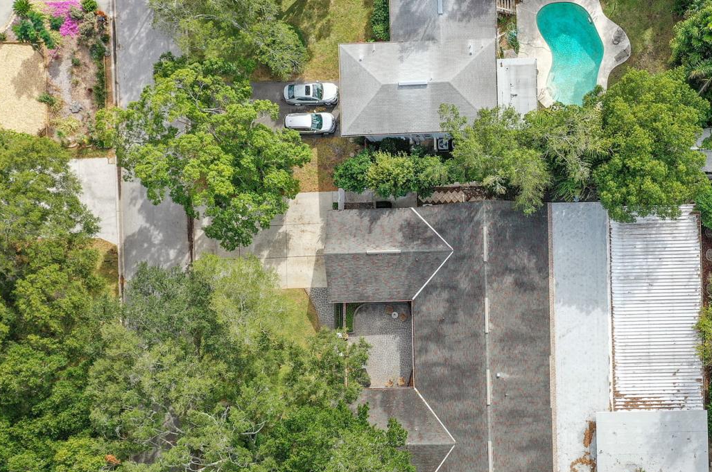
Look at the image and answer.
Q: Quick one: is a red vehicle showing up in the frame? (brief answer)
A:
No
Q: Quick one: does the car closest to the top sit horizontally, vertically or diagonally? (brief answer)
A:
horizontally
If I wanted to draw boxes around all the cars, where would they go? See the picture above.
[283,78,337,105]
[285,109,336,135]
